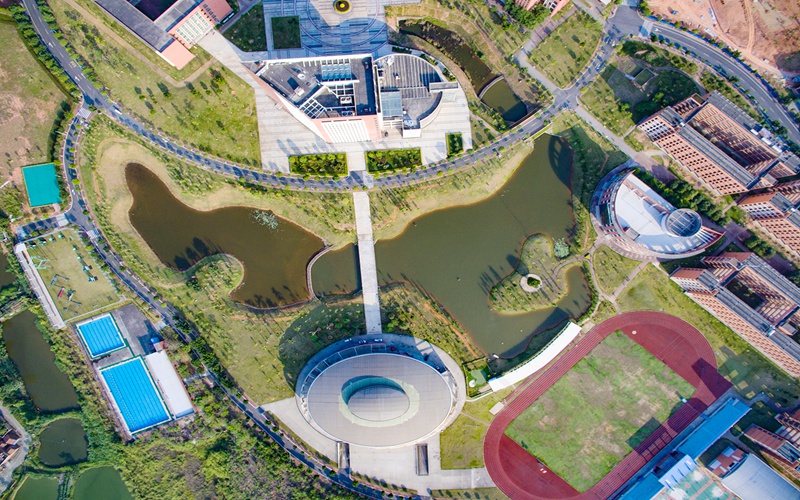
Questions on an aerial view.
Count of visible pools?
2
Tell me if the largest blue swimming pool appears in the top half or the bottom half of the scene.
bottom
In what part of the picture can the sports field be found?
bottom right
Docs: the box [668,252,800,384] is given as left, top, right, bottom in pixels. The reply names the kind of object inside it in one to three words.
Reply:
building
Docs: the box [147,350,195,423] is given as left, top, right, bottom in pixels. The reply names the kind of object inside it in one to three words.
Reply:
shed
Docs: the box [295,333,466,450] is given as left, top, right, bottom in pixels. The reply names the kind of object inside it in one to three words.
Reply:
building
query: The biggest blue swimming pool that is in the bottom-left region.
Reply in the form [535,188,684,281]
[97,356,173,435]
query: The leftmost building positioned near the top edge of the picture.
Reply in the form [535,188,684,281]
[91,0,245,69]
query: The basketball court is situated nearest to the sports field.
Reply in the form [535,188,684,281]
[650,459,741,500]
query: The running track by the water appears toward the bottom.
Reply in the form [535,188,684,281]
[482,309,732,500]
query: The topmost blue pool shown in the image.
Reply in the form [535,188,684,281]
[74,311,127,359]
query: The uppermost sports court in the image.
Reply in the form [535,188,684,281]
[20,162,62,207]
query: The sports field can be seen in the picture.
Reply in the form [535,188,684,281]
[504,330,695,492]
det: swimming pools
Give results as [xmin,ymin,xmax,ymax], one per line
[74,311,127,359]
[97,356,173,435]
